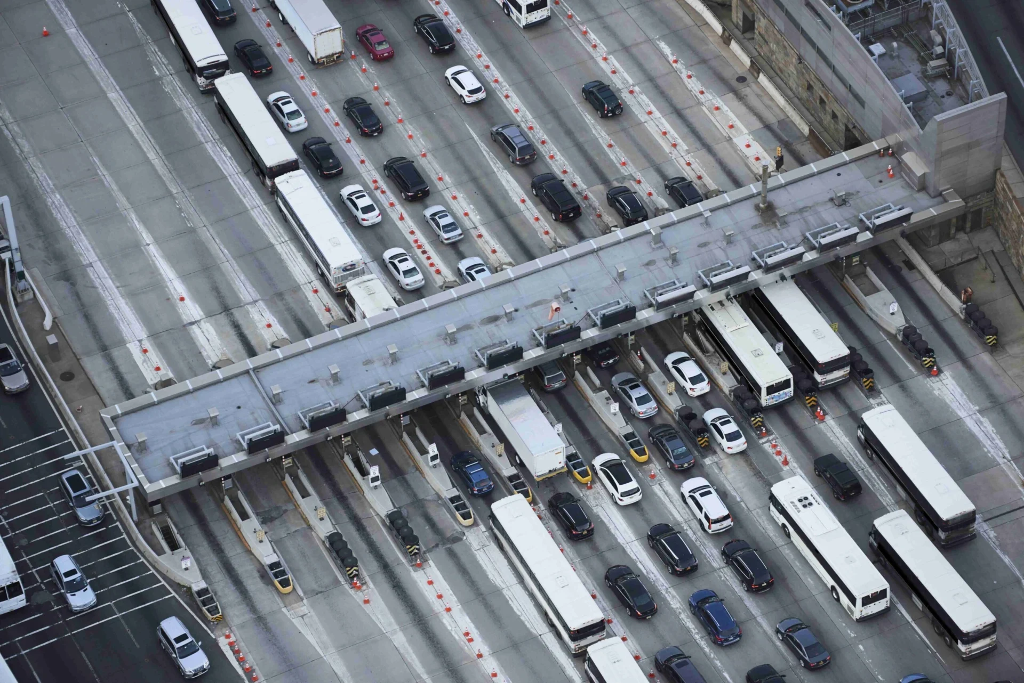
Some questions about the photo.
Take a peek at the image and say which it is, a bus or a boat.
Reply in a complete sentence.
Looking from above, you can make out a bus.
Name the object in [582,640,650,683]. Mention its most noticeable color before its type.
white bus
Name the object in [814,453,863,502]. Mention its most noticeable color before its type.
black car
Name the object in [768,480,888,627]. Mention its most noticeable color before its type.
white bus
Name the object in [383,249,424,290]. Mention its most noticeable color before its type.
white car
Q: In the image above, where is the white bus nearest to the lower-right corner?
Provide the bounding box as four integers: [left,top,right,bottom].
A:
[868,511,994,665]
